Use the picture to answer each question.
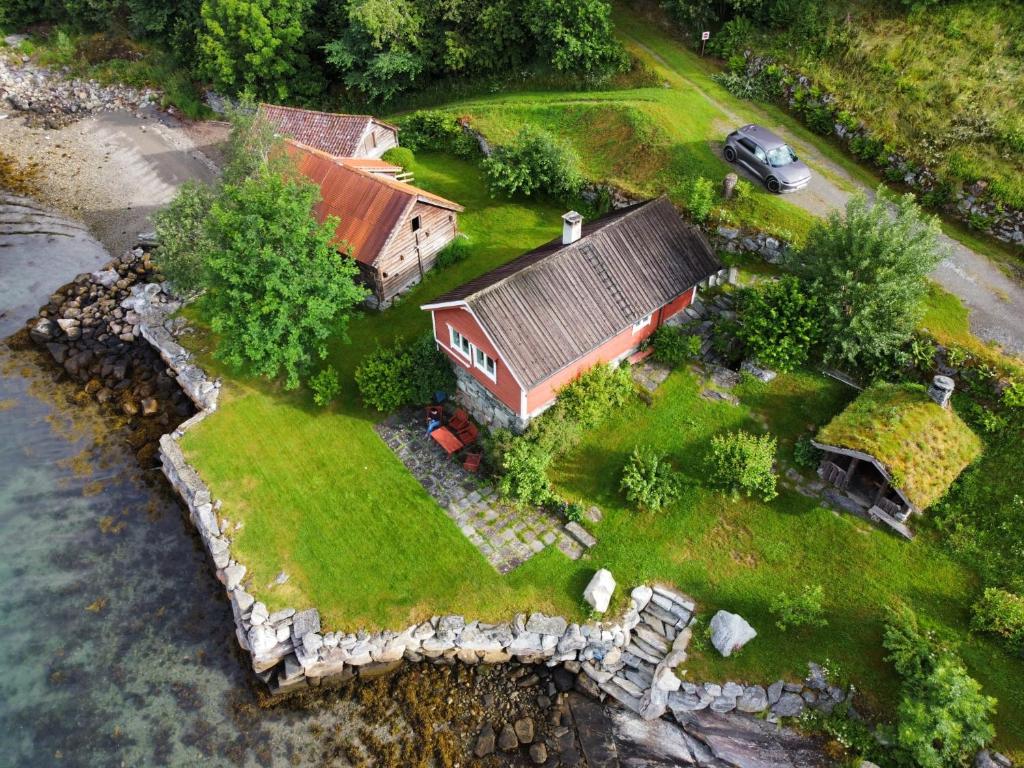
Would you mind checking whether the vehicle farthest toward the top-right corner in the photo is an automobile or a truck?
automobile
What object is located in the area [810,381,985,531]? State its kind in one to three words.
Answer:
shed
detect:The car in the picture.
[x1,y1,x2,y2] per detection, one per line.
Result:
[724,119,816,197]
